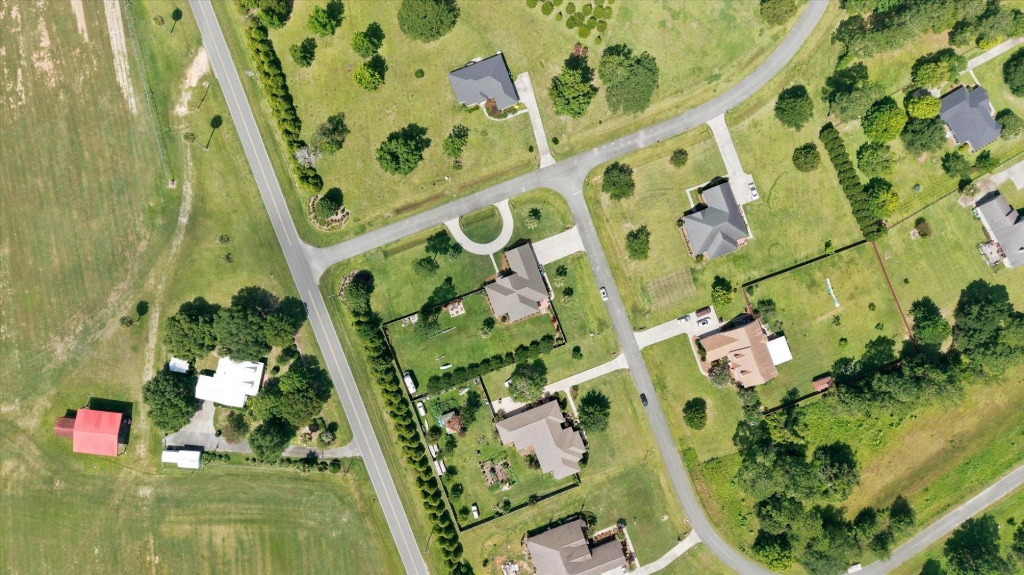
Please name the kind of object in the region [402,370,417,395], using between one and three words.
vehicle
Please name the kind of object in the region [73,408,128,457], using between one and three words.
barn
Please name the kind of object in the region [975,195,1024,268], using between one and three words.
house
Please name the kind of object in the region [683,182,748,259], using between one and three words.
house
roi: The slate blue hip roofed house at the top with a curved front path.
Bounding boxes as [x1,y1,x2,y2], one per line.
[449,53,518,110]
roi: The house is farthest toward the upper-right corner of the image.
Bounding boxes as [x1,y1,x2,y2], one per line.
[936,86,998,151]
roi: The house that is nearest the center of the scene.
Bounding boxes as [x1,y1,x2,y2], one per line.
[485,243,548,322]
